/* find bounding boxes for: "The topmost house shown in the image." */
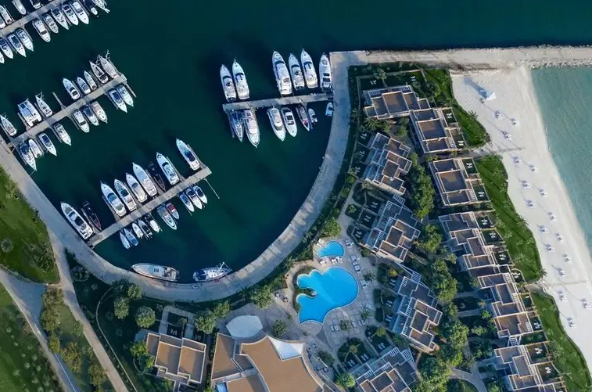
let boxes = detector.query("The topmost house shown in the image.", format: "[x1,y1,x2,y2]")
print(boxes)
[363,85,430,121]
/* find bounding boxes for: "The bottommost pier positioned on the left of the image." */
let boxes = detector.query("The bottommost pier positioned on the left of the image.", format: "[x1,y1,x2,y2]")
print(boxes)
[79,143,219,246]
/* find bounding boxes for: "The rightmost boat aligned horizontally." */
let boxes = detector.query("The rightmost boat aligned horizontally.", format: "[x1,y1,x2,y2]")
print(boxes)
[193,265,231,280]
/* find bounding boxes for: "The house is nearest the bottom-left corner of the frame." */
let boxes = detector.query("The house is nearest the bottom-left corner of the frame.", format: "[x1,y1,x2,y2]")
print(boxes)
[147,333,206,392]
